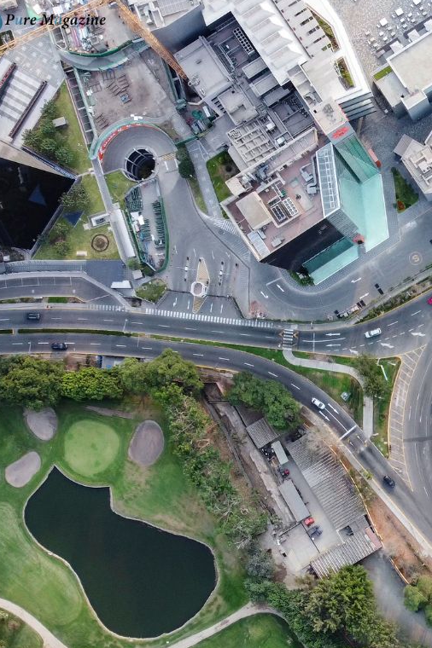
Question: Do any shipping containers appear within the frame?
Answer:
Yes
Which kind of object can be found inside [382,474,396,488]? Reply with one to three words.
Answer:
car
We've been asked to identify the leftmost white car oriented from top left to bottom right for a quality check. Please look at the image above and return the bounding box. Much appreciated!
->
[310,397,325,411]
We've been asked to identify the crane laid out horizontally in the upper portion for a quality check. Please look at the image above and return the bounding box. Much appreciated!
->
[0,0,183,55]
